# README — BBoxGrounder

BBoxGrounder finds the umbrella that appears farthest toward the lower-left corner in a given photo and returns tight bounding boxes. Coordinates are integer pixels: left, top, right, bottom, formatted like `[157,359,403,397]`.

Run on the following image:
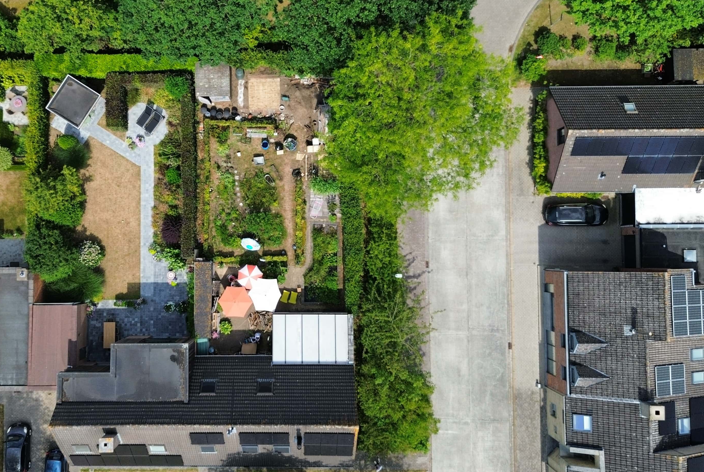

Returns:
[219,287,252,317]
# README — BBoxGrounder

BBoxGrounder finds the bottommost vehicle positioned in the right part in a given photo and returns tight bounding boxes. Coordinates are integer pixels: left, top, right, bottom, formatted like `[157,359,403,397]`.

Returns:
[544,196,606,227]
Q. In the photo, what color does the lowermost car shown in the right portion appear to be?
black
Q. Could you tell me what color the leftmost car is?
black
